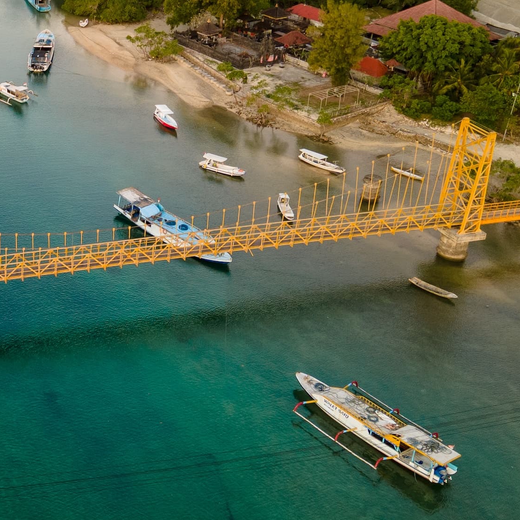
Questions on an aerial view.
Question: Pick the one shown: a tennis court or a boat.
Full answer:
It is a boat that can be seen here.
